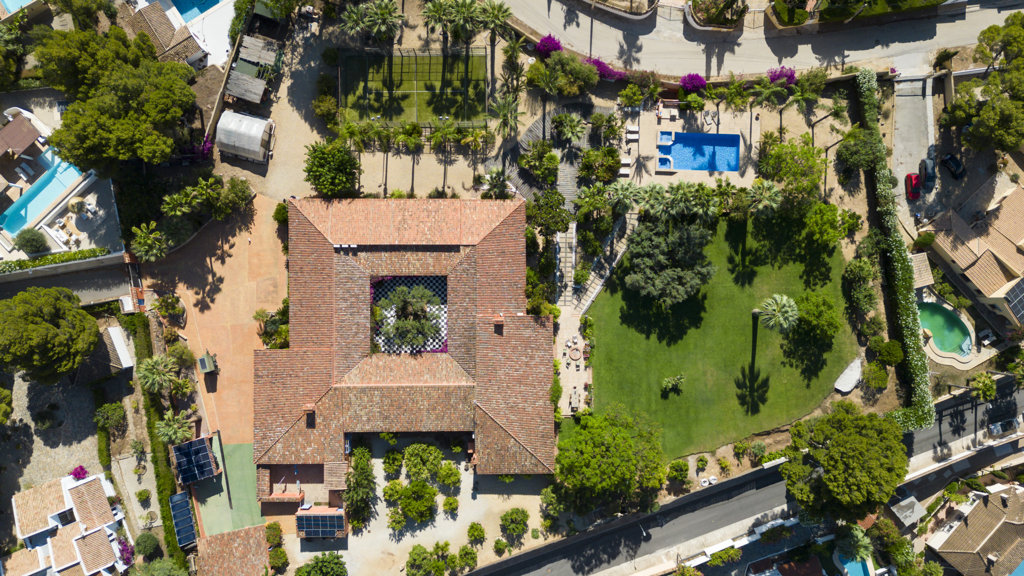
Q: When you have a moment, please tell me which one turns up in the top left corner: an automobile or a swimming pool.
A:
swimming pool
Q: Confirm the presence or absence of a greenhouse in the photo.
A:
Yes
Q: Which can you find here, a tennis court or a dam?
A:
tennis court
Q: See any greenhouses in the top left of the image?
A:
Yes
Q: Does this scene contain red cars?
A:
Yes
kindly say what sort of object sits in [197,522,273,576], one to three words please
shed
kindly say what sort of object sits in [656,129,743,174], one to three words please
swimming pool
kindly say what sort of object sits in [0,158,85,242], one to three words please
swimming pool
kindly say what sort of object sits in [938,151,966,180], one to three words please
car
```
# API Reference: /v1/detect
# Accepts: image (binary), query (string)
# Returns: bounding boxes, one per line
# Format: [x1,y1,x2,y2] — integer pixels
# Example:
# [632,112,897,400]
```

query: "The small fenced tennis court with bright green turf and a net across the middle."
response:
[339,52,488,127]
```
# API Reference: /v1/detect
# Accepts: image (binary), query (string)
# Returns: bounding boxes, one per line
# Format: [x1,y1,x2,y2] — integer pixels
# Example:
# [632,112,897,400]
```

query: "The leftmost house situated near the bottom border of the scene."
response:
[0,468,135,576]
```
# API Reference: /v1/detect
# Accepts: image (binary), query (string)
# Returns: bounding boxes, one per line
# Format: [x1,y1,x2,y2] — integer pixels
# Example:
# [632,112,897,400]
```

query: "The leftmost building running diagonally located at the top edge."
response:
[127,2,215,70]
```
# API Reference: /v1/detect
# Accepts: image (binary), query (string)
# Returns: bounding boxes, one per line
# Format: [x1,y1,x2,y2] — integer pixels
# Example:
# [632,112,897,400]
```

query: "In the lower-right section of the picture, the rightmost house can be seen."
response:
[917,485,1024,576]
